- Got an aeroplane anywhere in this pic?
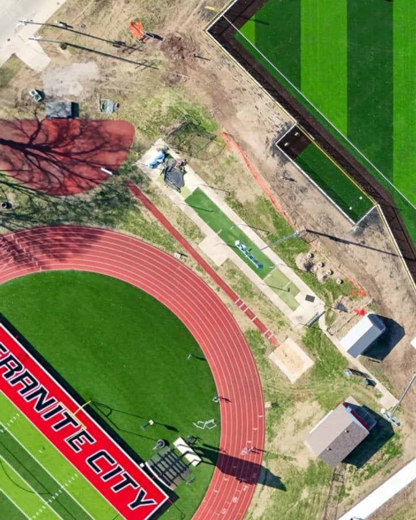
No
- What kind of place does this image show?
sports ground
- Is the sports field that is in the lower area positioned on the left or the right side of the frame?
left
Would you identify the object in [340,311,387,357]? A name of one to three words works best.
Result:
shed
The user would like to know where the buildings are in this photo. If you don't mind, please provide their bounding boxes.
[307,395,371,467]
[340,311,387,357]
[46,100,76,118]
